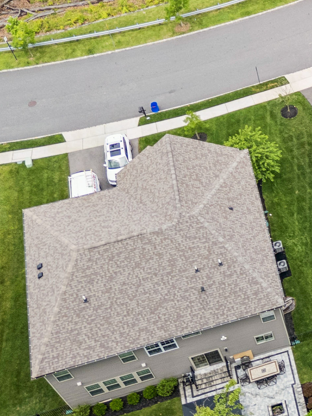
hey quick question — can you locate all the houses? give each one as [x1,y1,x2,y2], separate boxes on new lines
[23,134,291,409]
